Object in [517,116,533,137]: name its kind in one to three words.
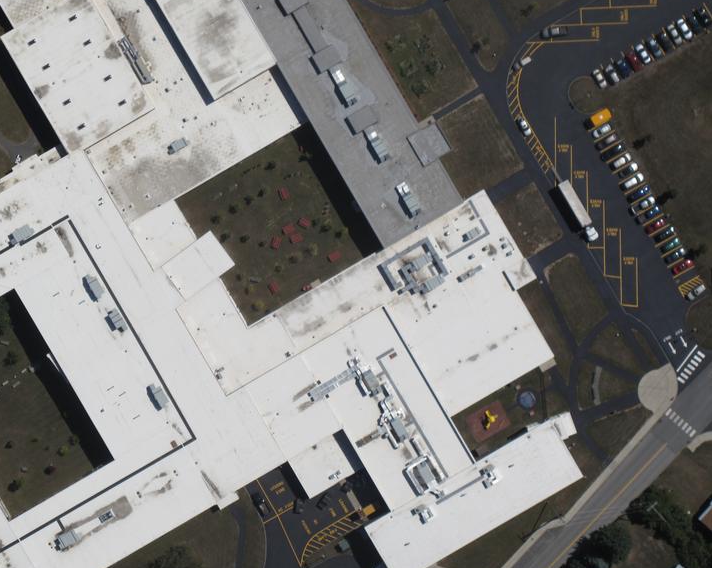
car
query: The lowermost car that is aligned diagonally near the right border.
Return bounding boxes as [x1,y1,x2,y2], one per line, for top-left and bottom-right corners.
[682,283,703,299]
